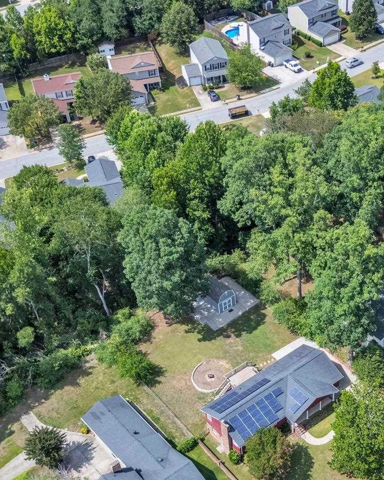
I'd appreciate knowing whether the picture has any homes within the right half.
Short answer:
Yes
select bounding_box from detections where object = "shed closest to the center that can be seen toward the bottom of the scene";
[198,279,238,314]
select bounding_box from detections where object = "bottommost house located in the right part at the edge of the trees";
[199,345,344,462]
